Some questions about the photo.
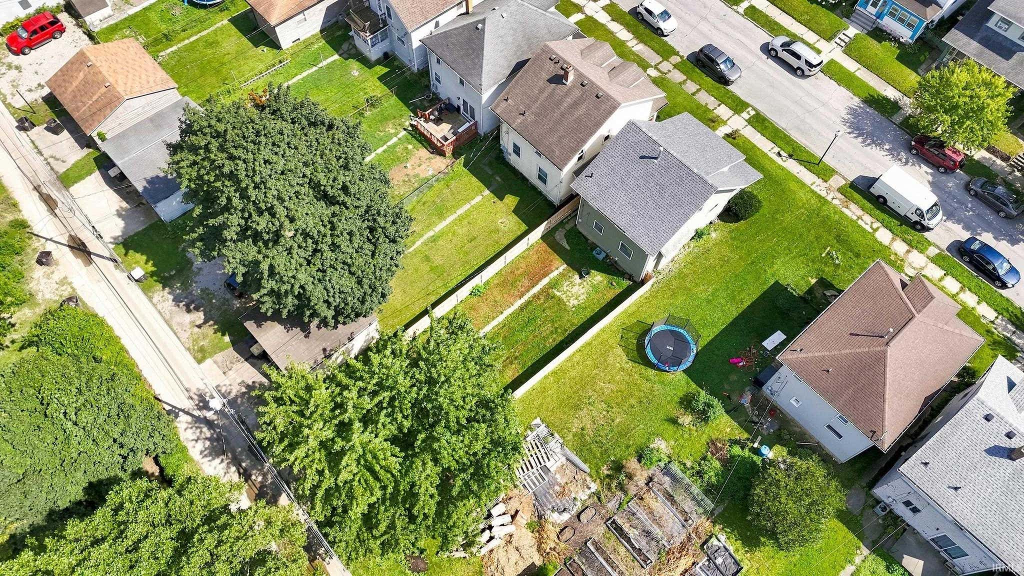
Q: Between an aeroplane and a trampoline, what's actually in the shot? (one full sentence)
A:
There is a trampoline in the scene.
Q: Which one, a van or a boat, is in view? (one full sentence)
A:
Looking from above, you can make out a van.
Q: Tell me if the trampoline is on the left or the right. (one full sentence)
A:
The trampoline is on the right side of the image.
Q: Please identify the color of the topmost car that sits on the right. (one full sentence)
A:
The color of the topmost car that sits on the right is white.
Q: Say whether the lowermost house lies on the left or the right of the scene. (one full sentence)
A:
The lowermost house sits on the right side.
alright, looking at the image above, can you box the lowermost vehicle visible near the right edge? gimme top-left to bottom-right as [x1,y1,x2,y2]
[960,237,1024,290]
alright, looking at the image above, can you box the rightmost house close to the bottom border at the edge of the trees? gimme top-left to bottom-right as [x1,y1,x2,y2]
[878,362,1024,576]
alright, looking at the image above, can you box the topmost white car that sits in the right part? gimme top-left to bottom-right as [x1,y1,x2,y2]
[636,0,678,36]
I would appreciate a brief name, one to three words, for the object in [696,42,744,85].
car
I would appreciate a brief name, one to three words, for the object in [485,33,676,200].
house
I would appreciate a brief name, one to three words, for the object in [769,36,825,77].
car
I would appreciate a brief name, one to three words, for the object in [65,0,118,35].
shed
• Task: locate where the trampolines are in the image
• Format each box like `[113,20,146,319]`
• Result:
[641,312,702,377]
